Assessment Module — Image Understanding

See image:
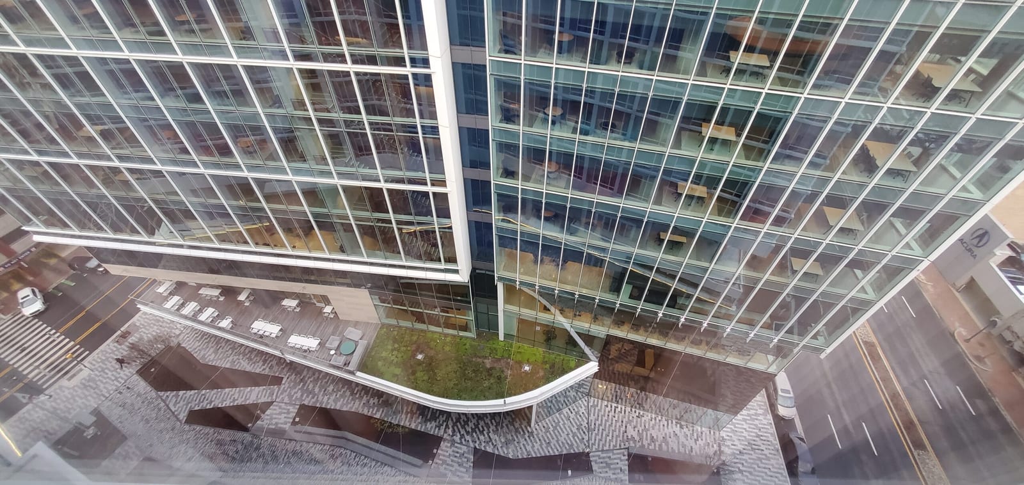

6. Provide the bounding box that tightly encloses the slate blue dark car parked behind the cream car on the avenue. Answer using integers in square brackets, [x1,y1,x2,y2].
[785,439,822,485]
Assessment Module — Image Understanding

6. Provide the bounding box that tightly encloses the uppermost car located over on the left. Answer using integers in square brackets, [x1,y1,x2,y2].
[74,256,104,281]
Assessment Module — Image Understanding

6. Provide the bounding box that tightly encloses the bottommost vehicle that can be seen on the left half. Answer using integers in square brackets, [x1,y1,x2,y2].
[16,287,45,319]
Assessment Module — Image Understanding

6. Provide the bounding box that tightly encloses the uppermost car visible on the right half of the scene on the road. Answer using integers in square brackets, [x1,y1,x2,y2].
[767,373,798,420]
